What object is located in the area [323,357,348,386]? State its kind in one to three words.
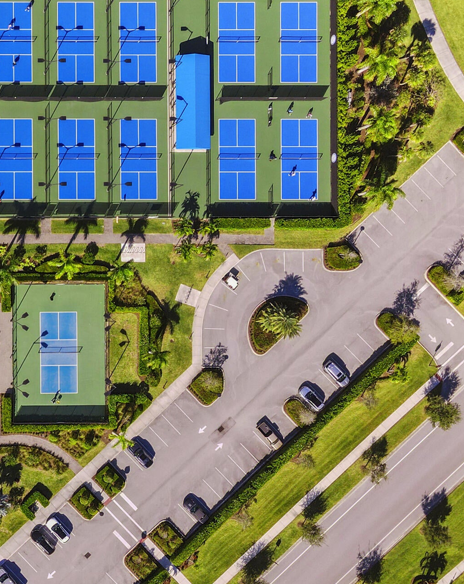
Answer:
car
